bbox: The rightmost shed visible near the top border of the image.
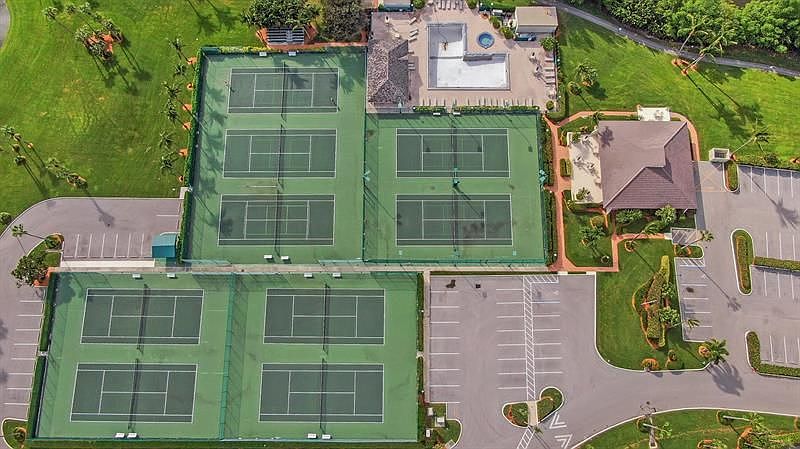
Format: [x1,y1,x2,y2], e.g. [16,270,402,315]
[514,6,559,32]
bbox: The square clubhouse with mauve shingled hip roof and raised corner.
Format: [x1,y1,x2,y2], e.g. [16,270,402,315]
[598,120,697,217]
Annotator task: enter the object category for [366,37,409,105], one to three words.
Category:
shed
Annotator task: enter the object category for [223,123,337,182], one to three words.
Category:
tennis court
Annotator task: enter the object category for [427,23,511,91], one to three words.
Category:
swimming pool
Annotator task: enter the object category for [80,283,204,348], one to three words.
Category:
tennis court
